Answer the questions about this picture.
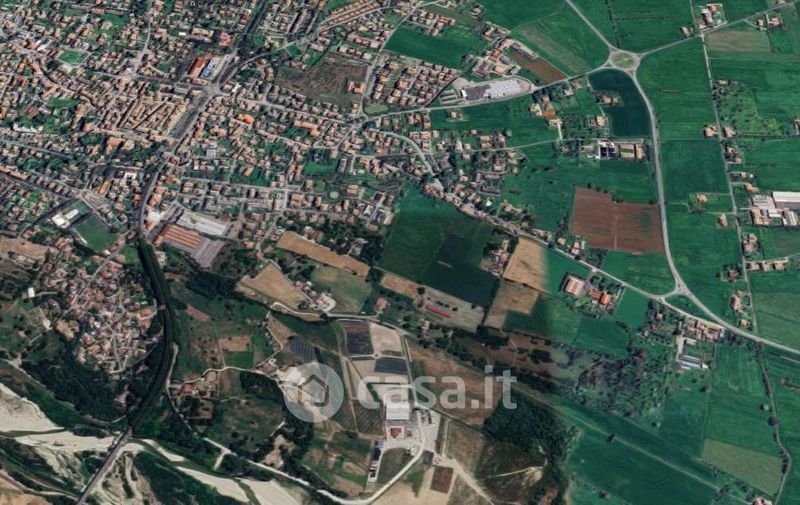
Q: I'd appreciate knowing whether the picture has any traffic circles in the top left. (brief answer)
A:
No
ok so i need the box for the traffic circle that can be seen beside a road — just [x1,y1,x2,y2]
[592,41,652,86]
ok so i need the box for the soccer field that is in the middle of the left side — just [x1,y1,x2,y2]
[75,213,119,251]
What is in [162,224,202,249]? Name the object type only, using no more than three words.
building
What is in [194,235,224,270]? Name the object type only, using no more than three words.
building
